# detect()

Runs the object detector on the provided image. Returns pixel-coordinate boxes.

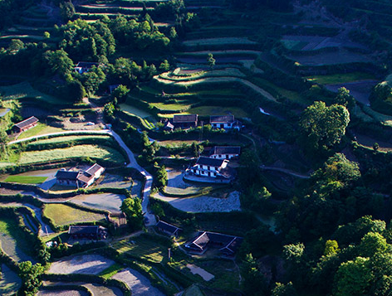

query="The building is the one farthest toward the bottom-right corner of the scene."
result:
[184,230,257,261]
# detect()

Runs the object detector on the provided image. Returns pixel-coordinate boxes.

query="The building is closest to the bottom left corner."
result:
[64,226,116,243]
